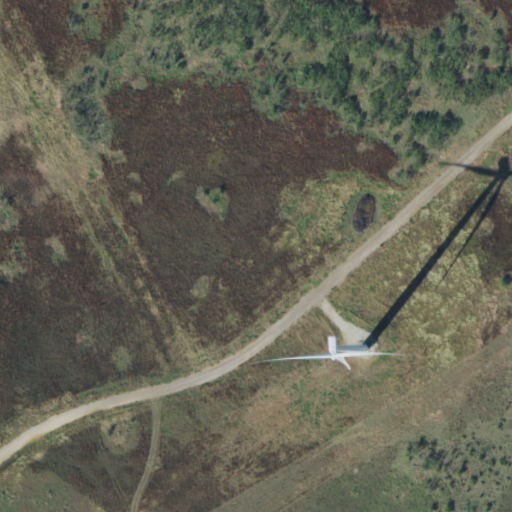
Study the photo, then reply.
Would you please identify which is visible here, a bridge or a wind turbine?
wind turbine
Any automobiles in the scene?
No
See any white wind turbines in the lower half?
Yes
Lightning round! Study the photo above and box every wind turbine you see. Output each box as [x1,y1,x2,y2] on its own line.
[254,335,402,368]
